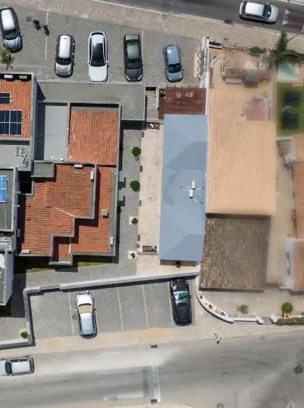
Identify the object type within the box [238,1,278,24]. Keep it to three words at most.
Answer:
car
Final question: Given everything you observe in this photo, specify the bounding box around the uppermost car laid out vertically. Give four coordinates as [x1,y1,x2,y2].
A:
[0,7,22,52]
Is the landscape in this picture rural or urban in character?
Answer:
urban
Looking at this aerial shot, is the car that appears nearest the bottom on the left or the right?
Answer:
left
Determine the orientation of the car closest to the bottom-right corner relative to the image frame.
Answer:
from top to bottom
